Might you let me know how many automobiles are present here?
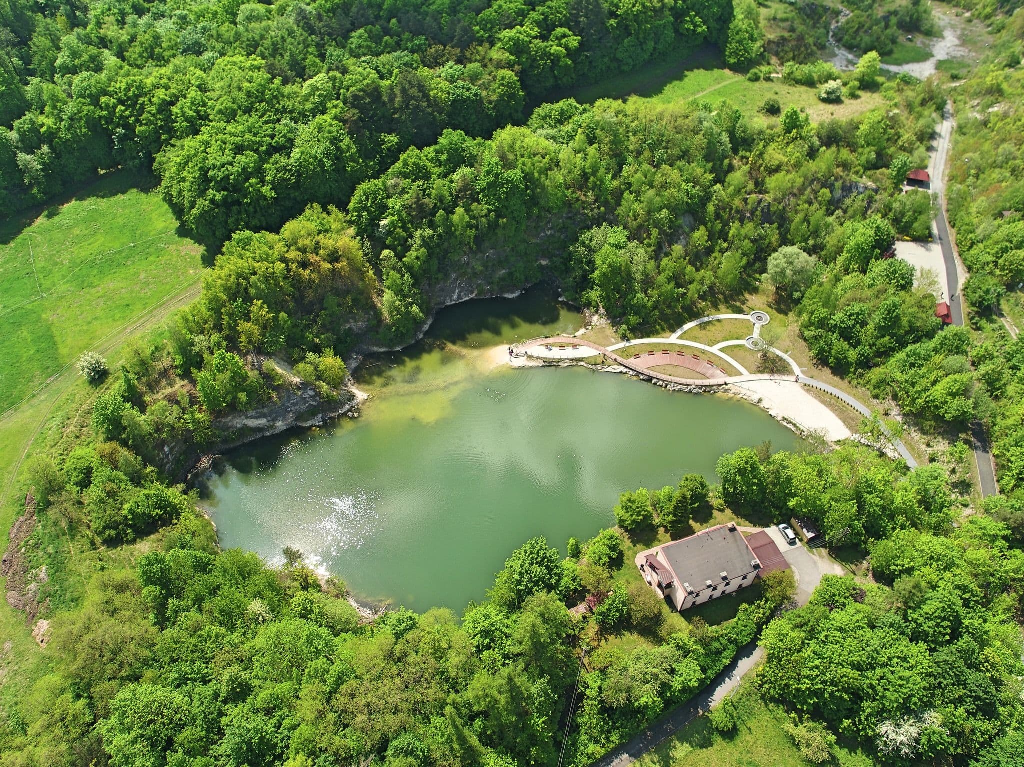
1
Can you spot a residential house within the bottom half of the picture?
Yes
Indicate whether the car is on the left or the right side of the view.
right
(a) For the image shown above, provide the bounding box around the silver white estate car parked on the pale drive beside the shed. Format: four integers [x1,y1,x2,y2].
[777,524,799,546]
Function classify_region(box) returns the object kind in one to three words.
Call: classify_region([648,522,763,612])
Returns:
house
